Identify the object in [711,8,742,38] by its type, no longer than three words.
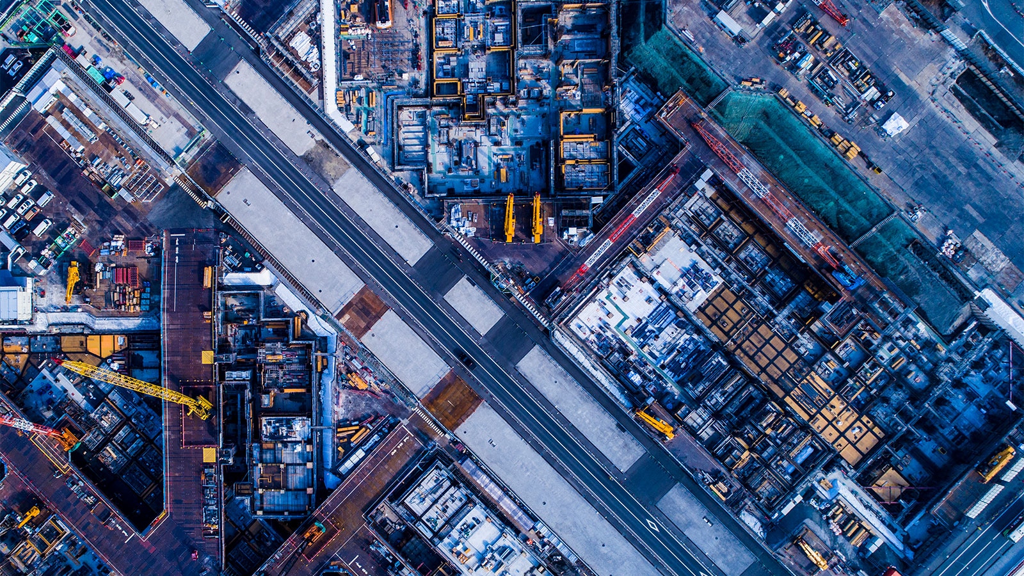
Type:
building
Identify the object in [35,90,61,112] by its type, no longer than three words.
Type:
building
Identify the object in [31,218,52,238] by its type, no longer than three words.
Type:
vehicle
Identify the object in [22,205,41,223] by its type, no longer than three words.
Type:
car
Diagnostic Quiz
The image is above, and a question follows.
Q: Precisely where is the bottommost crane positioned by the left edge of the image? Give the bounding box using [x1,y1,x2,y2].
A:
[0,416,90,457]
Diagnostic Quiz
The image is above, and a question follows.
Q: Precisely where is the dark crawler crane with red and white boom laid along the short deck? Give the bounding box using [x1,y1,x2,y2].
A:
[529,166,680,319]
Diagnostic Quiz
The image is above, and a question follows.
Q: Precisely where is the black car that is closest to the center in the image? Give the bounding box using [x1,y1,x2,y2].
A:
[454,350,476,372]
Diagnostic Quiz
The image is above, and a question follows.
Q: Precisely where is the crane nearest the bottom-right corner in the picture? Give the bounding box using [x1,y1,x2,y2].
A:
[981,449,1019,482]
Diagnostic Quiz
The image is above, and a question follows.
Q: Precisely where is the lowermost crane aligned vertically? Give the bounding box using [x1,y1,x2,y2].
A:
[61,261,83,305]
